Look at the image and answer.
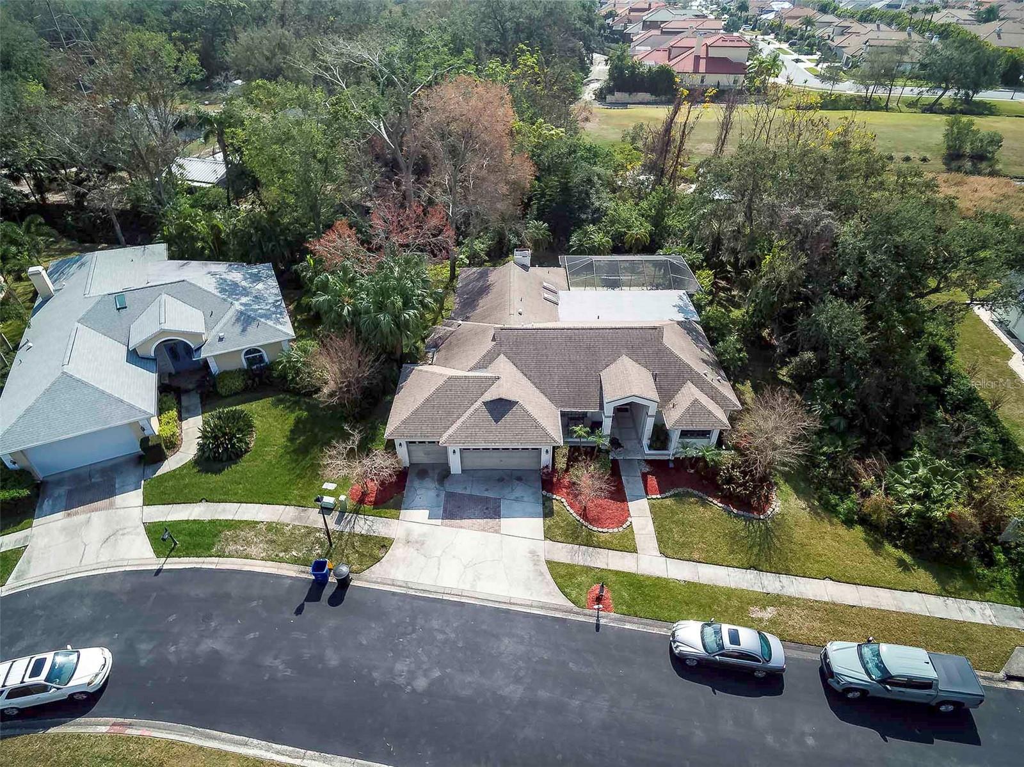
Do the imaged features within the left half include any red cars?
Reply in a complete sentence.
No, the scene shows no red car within the left half.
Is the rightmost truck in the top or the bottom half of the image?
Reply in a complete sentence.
The rightmost truck sits in the bottom half of the picture.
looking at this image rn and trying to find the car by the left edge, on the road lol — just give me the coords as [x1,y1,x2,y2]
[0,647,107,718]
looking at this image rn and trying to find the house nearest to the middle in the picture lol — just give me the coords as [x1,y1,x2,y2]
[383,248,742,473]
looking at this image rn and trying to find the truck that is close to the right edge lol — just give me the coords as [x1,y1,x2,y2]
[826,643,990,714]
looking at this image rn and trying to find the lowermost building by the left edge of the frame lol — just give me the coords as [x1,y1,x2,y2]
[0,245,301,482]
